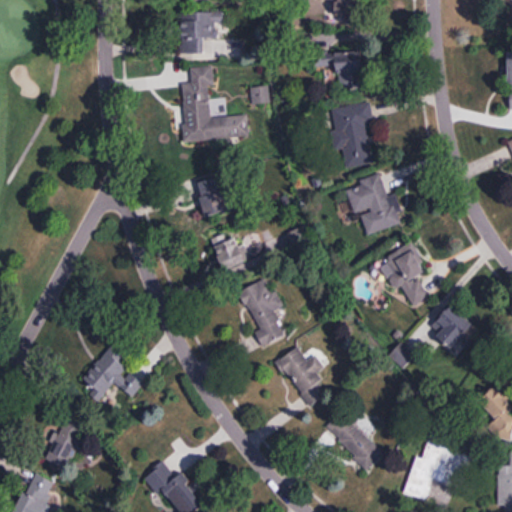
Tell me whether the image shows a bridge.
No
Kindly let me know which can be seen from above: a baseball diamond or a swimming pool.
swimming pool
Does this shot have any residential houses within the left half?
Yes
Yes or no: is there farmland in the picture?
No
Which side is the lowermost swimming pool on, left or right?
right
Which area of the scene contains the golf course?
top left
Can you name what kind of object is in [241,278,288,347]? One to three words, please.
house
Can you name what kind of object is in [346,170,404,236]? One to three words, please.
house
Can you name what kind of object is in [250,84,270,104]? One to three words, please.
building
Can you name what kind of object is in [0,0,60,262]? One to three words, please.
golf course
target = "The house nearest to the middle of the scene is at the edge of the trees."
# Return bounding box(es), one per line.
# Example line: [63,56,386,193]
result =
[211,232,246,272]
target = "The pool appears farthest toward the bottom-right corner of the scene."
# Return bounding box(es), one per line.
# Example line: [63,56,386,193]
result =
[354,272,384,310]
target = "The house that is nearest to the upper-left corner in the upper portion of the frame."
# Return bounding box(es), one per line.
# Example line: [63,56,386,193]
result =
[180,10,224,52]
